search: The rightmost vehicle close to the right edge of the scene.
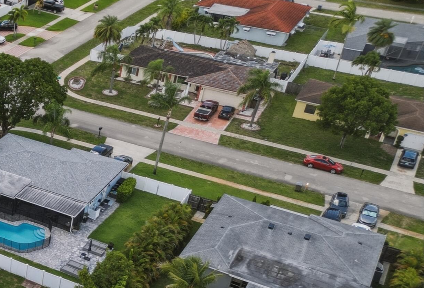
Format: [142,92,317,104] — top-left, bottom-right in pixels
[399,147,423,167]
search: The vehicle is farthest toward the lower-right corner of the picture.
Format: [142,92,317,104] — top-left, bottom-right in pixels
[356,199,386,228]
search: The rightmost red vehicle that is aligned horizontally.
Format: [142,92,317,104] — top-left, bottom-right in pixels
[303,155,346,174]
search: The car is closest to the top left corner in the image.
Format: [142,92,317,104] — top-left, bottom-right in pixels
[0,17,19,29]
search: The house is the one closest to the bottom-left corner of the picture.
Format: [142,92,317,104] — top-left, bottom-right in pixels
[0,133,130,239]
